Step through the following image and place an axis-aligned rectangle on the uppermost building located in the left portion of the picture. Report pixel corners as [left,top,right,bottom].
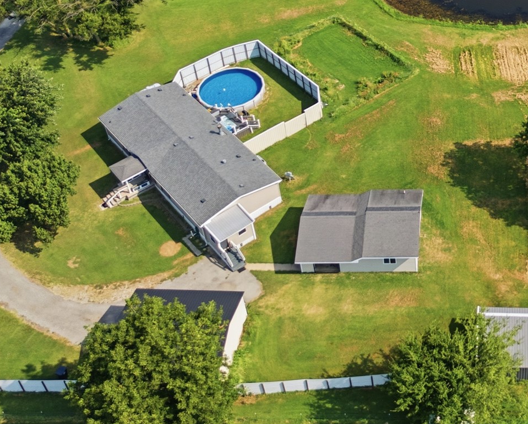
[95,82,285,272]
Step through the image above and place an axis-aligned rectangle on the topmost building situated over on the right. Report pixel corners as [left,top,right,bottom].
[293,190,424,278]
